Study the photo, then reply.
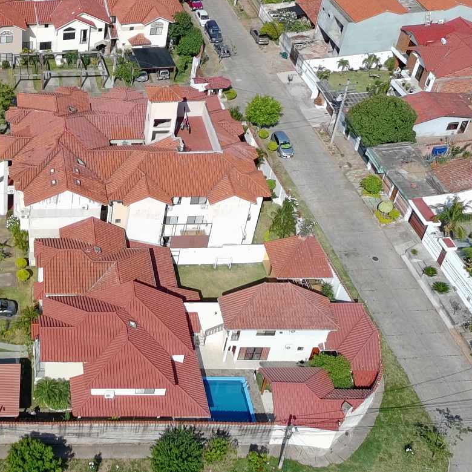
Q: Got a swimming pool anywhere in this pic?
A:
Yes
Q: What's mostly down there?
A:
buildings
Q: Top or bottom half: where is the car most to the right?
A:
top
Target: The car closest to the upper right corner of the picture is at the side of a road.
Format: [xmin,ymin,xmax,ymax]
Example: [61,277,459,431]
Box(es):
[250,30,270,45]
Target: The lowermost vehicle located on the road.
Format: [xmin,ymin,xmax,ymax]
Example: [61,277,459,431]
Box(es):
[268,130,295,158]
